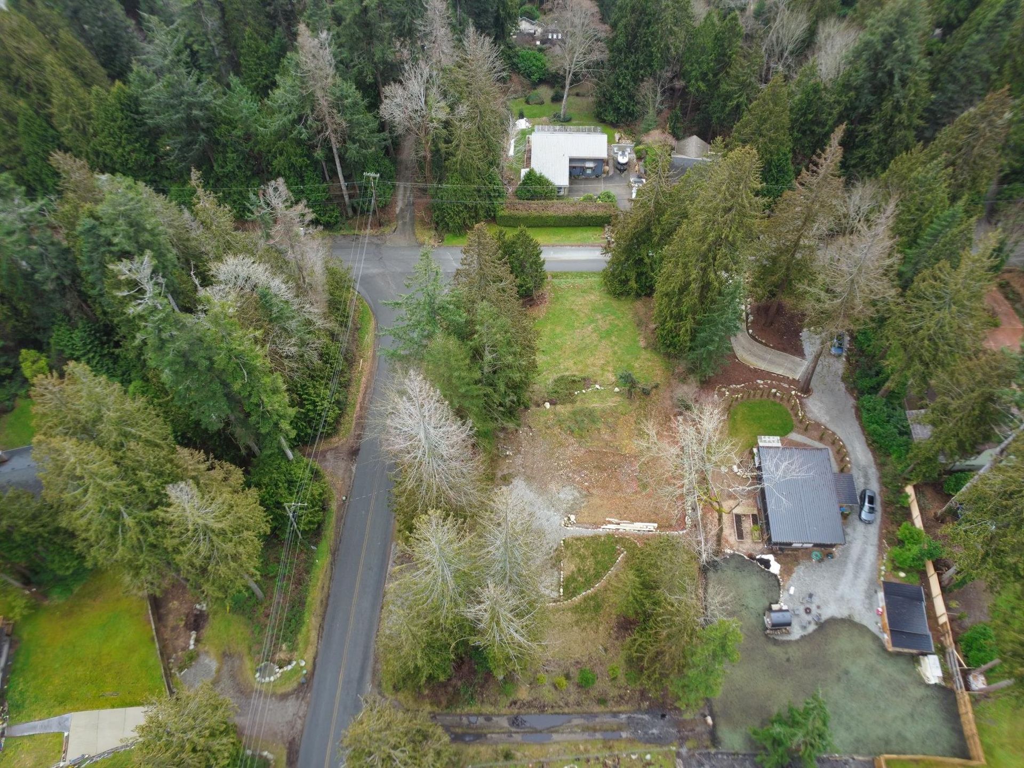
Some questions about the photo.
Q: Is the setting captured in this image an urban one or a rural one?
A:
rural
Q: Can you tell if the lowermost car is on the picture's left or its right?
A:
right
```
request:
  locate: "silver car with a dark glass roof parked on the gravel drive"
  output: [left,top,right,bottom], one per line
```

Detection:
[857,489,879,526]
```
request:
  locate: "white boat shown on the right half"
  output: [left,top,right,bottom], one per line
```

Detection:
[615,139,630,169]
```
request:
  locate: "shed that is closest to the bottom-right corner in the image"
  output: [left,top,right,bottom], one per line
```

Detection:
[875,581,936,655]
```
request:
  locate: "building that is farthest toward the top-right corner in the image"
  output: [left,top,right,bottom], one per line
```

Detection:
[676,135,710,161]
